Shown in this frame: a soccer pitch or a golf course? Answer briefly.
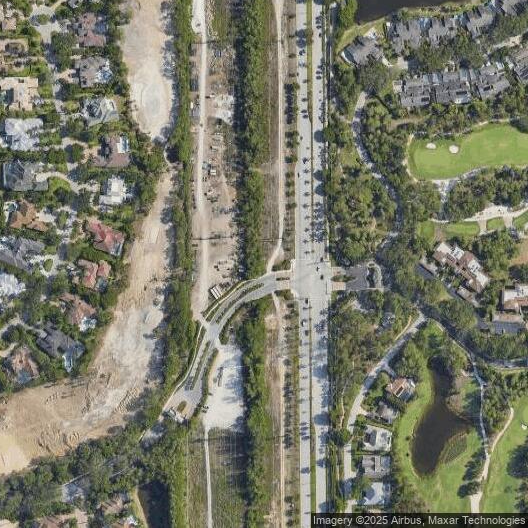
golf course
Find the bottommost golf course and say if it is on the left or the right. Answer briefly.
right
